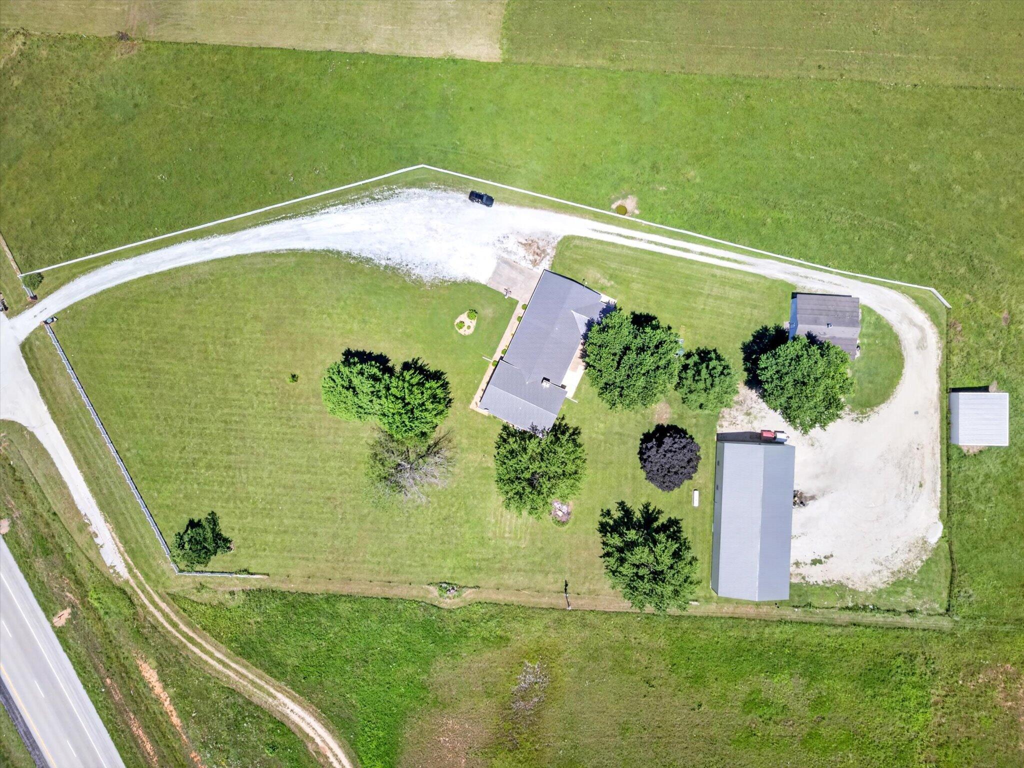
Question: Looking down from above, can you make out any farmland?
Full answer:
Yes, there's farmland in this view.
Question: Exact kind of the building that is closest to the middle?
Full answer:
It looks like the building that is closest to the middle is a home.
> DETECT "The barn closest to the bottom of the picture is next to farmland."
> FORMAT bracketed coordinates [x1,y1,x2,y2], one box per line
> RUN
[711,441,797,601]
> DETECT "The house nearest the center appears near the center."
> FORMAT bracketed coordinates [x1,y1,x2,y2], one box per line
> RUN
[478,270,617,439]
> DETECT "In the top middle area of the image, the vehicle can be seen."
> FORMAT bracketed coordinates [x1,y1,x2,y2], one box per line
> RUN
[468,190,495,207]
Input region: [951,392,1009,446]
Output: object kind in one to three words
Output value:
shed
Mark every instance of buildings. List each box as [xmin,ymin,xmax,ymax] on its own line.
[711,441,797,601]
[788,295,859,362]
[951,392,1009,446]
[478,270,617,439]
